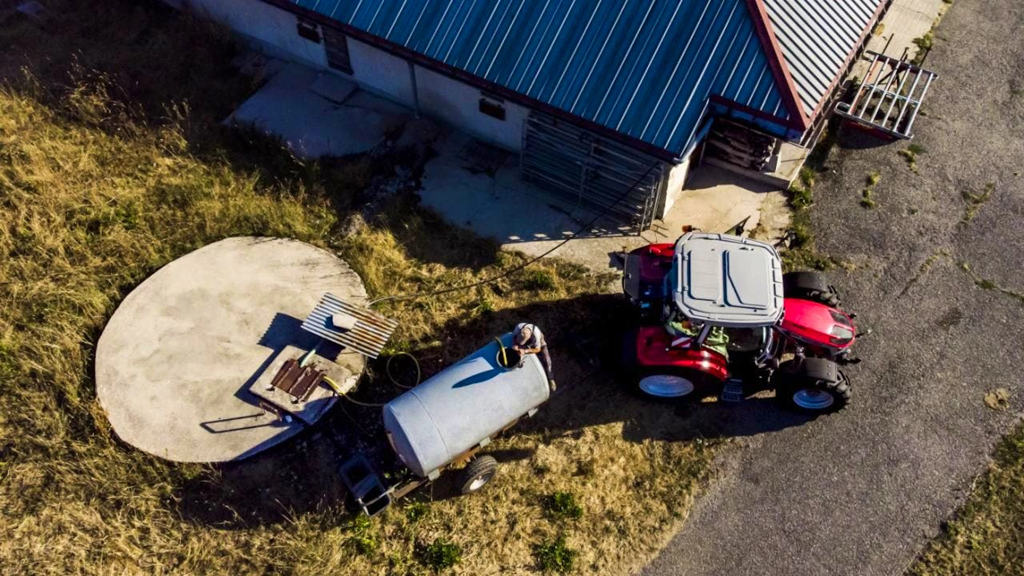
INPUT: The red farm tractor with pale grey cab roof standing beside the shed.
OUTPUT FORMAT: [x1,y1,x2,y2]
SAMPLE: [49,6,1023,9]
[596,213,872,421]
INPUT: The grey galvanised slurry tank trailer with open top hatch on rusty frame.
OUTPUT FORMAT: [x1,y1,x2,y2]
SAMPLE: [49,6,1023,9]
[368,337,577,505]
